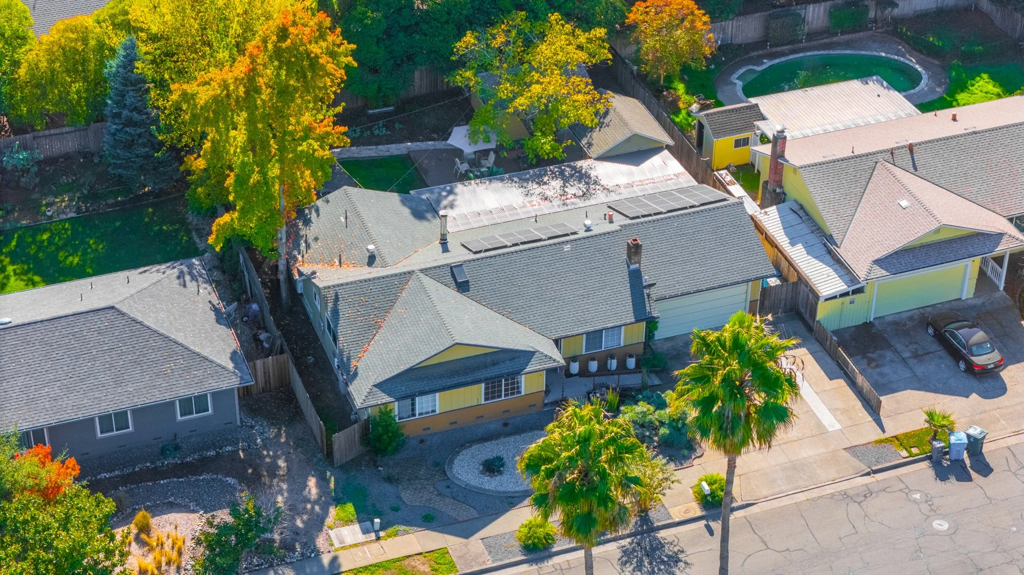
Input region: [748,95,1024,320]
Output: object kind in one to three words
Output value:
house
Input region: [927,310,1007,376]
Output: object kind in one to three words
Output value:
car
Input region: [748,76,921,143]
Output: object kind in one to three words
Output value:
building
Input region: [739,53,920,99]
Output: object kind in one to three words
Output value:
swimming pool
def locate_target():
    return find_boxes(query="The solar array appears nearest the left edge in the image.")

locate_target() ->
[462,221,578,251]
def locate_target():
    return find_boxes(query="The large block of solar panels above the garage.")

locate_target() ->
[605,184,731,216]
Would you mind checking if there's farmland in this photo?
No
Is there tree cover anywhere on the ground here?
Yes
